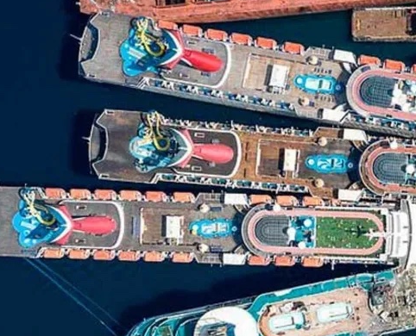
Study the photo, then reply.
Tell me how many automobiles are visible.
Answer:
0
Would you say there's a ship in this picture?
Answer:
Yes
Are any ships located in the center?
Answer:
Yes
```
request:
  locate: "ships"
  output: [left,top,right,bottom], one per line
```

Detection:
[0,187,416,271]
[79,109,416,203]
[75,0,416,23]
[70,10,416,138]
[129,266,416,336]
[351,3,416,43]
